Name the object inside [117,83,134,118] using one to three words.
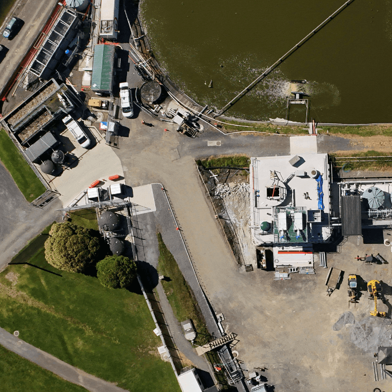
vehicle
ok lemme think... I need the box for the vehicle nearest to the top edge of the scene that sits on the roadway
[2,14,20,41]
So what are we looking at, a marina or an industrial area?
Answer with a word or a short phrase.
industrial area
